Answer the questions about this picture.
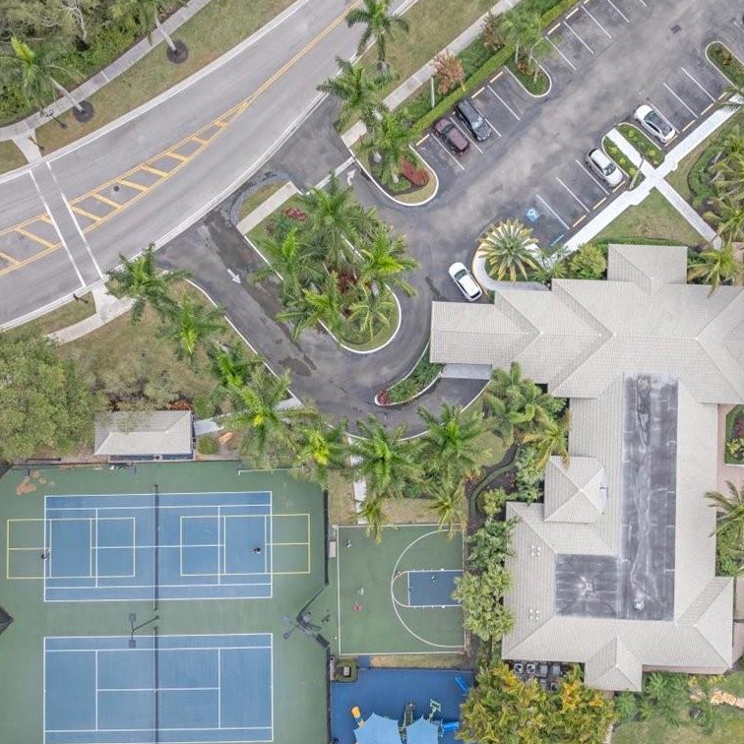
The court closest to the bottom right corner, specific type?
basketball court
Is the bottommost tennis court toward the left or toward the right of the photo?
left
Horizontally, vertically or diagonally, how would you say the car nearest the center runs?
diagonally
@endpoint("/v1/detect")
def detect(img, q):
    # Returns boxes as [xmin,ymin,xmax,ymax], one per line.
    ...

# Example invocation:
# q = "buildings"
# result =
[95,411,194,461]
[431,245,744,690]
